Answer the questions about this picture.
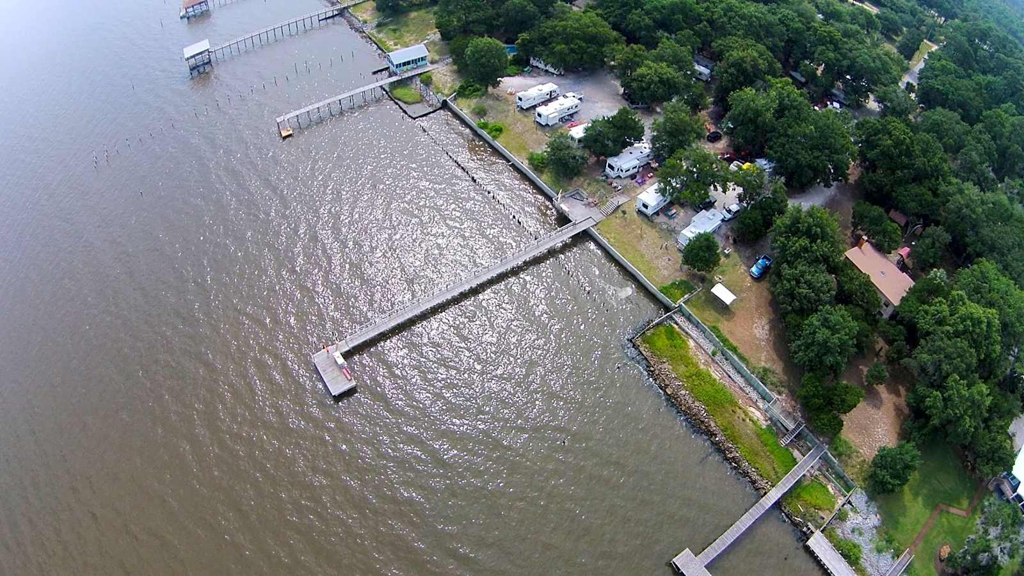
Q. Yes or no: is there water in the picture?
Yes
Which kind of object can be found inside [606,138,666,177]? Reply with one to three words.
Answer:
vehicle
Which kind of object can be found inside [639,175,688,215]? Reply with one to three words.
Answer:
vehicle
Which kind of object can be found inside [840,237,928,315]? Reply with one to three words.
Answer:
house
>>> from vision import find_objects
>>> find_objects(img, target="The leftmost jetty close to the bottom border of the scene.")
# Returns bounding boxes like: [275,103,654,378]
[668,443,827,576]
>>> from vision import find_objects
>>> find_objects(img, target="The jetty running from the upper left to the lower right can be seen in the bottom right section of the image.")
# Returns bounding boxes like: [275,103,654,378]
[798,531,863,576]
